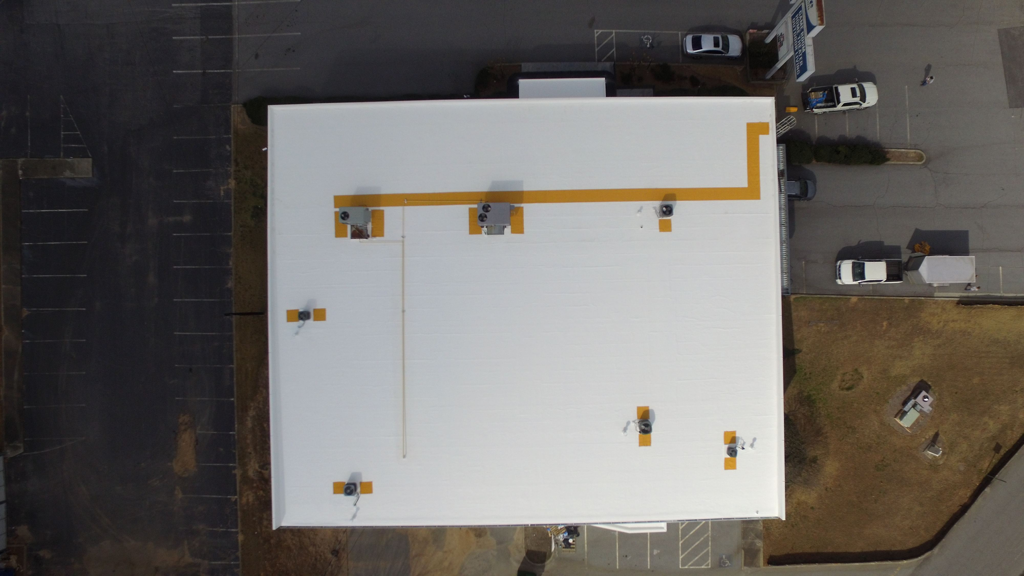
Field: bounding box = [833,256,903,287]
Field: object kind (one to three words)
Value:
truck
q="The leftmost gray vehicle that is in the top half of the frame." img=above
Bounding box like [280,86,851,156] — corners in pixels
[682,31,743,59]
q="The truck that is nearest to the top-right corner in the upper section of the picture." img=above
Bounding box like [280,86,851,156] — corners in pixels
[799,79,879,113]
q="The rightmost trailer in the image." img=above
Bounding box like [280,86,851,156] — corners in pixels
[903,252,976,286]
